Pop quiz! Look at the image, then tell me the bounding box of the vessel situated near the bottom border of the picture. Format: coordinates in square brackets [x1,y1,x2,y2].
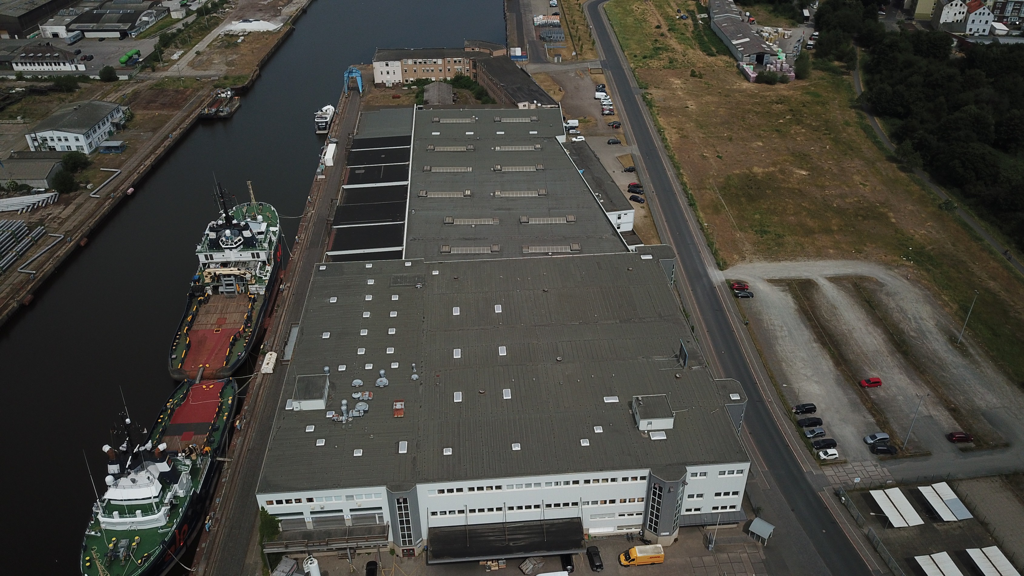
[78,378,240,576]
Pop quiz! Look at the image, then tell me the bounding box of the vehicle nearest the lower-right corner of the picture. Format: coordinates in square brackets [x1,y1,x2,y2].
[946,429,976,444]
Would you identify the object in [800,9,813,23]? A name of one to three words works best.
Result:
vehicle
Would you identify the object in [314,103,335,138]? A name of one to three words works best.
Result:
boat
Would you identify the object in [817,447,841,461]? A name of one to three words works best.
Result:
car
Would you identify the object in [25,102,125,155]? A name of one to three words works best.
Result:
building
